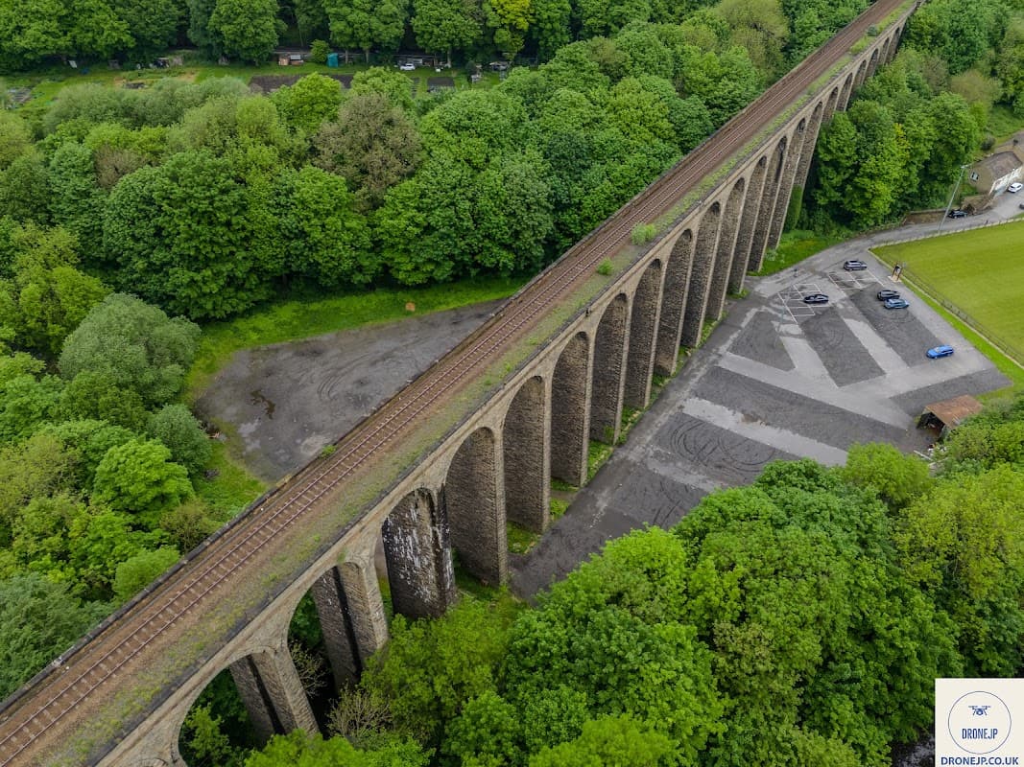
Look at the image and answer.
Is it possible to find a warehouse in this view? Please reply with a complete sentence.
No, no warehouse is visible in the scene.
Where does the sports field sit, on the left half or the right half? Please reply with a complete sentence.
The sports field sits on the right side.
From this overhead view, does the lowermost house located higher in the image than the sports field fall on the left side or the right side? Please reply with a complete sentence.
It is on the right.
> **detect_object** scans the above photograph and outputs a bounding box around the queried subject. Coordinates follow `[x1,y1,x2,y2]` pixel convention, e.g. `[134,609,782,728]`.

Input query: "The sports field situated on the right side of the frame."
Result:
[877,217,1024,373]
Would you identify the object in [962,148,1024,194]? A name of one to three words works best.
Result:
house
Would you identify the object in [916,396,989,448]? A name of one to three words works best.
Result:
shed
